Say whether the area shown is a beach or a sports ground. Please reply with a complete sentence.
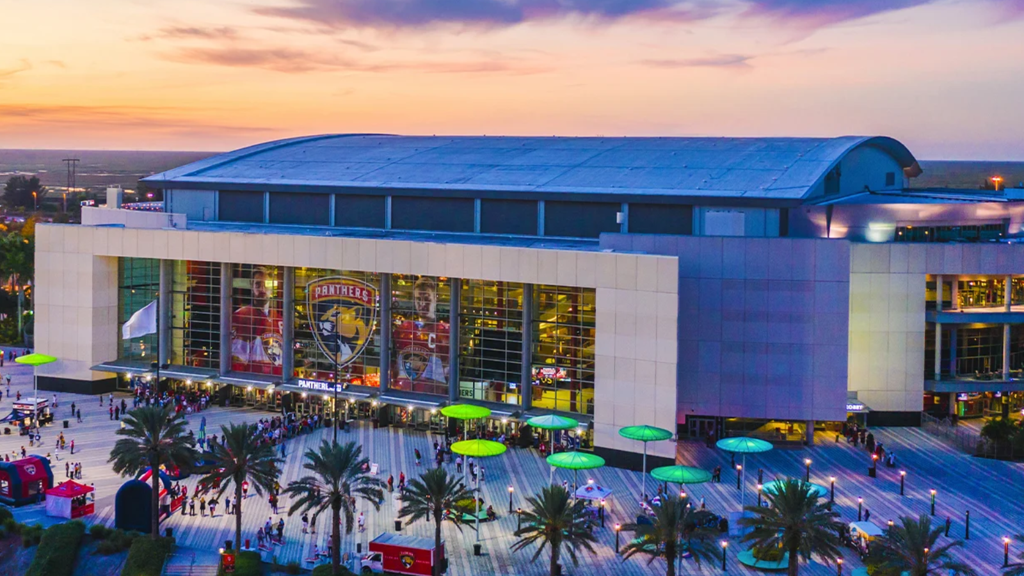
This looks like a sports ground.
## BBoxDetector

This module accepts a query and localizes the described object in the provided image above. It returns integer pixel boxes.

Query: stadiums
[35,133,1024,474]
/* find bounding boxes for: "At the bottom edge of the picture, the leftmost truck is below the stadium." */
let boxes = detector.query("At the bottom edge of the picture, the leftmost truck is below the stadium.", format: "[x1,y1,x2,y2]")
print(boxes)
[359,530,448,576]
